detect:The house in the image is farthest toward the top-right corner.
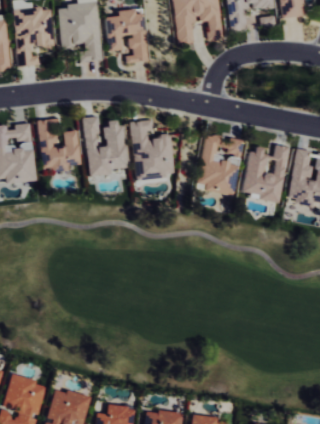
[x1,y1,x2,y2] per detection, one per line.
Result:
[280,0,317,18]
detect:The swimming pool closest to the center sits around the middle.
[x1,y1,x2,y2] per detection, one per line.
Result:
[144,184,169,198]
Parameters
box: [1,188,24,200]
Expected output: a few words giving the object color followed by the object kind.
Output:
blue swimming pool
